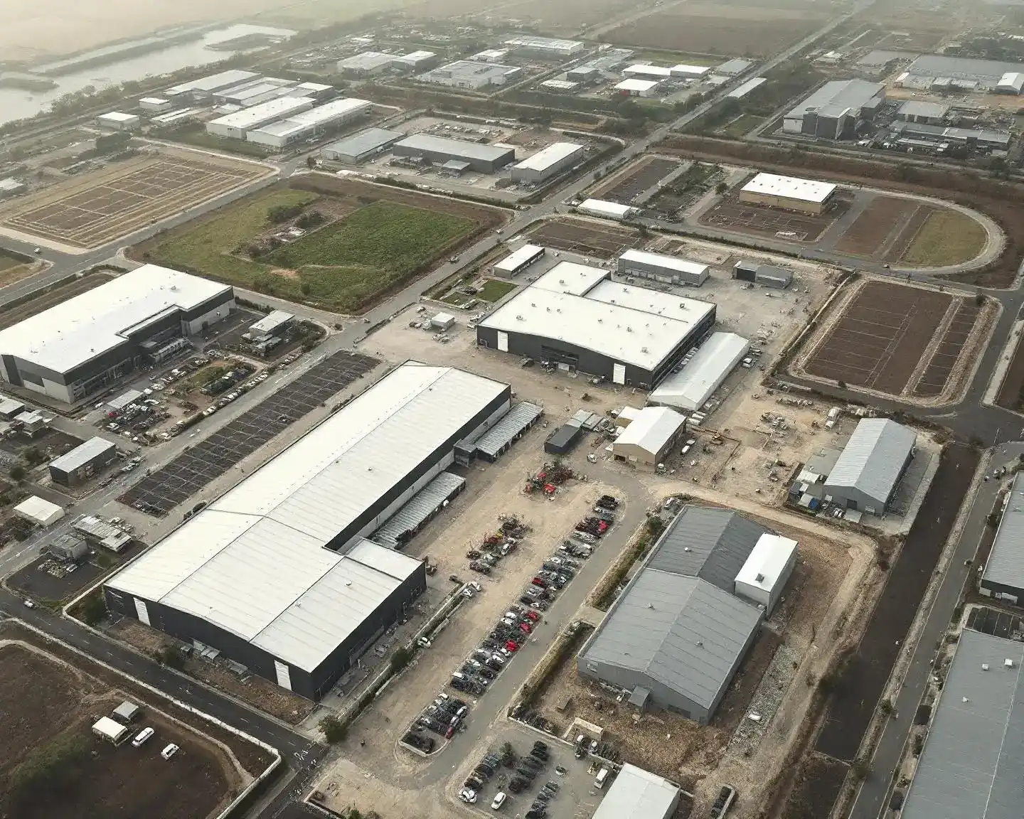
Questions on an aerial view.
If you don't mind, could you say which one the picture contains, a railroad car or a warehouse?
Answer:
warehouse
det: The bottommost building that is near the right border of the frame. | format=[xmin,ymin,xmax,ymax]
[896,627,1024,819]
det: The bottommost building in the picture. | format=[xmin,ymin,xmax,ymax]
[587,762,681,819]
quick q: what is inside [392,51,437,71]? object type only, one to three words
building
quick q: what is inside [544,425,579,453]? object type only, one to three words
shed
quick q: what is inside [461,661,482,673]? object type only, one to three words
vehicle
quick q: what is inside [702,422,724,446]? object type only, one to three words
work vehicle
